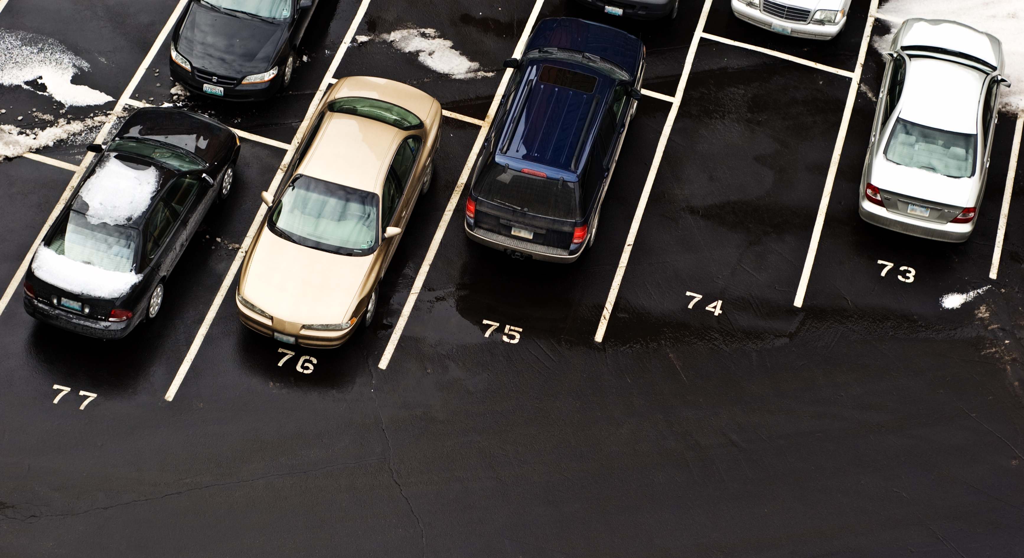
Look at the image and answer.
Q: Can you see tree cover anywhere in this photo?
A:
No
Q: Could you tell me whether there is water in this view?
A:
No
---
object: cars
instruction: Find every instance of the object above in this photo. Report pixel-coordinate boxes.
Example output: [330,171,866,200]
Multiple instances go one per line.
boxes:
[26,103,237,337]
[731,0,849,40]
[241,82,439,346]
[860,20,1013,243]
[577,0,679,23]
[173,0,316,102]
[466,21,644,266]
